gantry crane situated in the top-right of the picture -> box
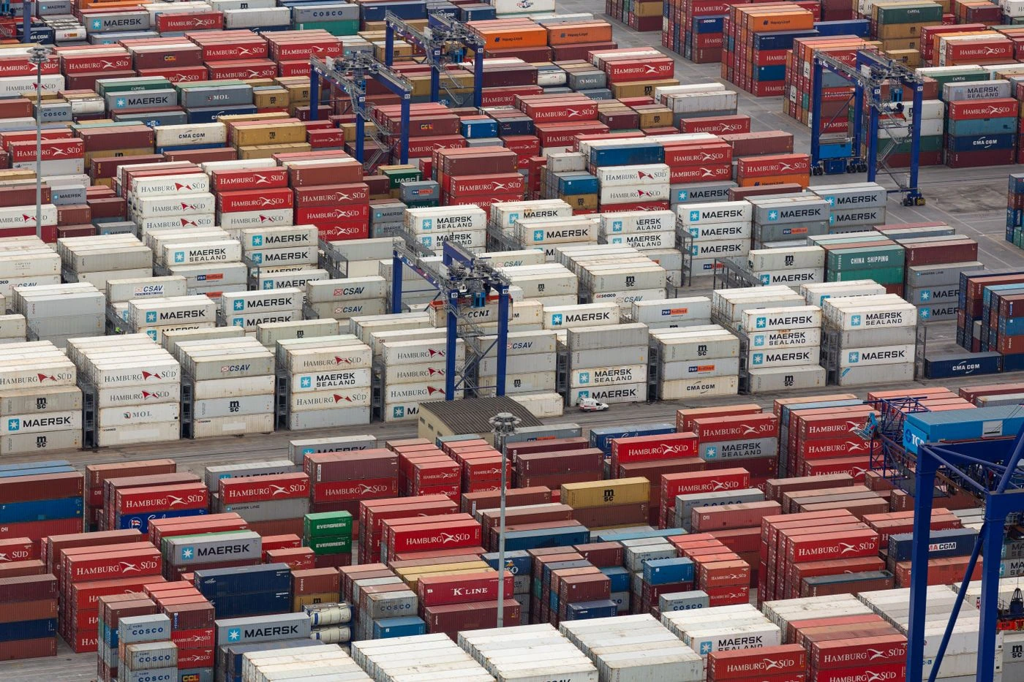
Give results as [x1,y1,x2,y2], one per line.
[808,47,928,203]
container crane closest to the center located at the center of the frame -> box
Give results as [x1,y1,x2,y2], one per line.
[385,237,514,401]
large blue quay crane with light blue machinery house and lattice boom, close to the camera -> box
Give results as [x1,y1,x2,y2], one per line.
[825,340,1024,682]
